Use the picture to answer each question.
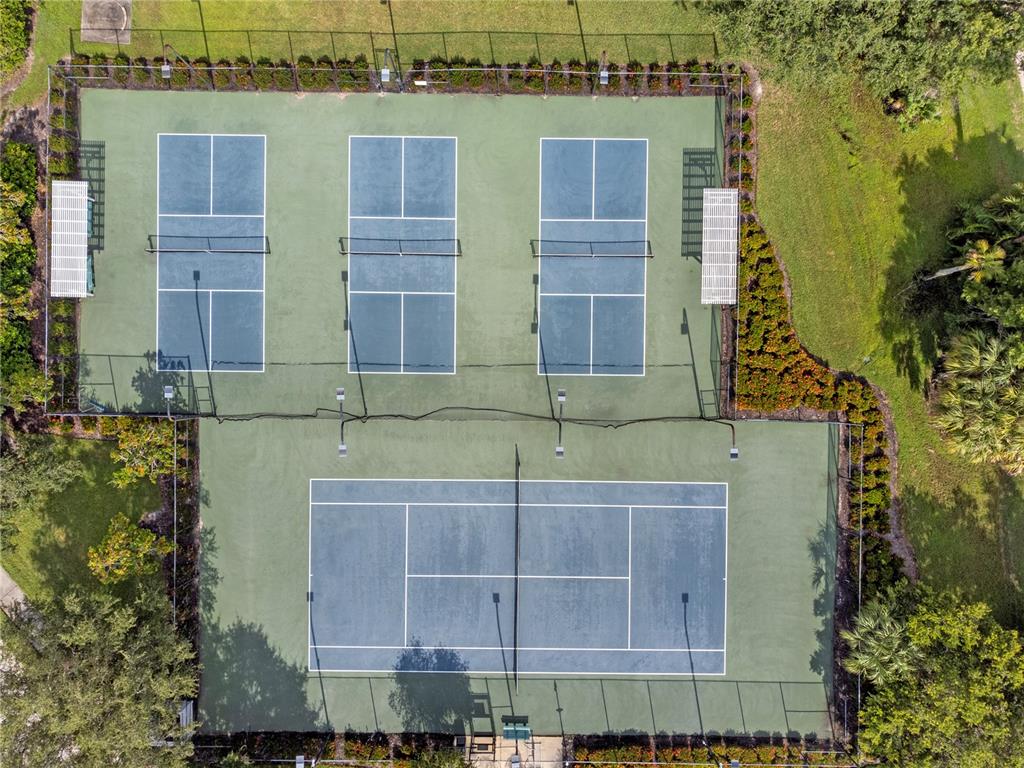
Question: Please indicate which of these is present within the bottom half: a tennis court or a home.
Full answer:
There is a tennis court within the bottom half.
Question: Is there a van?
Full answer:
No, there appears to be no van in this shot.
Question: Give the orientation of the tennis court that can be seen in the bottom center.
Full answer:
The tennis court that can be seen in the bottom center runs horizontally in the image.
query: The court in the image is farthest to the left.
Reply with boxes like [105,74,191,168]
[156,133,266,373]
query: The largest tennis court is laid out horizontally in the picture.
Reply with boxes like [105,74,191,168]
[307,479,728,676]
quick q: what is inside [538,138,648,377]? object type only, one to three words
sports court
